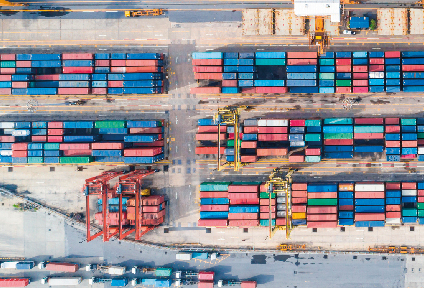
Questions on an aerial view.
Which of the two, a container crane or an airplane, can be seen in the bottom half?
container crane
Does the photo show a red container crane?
Yes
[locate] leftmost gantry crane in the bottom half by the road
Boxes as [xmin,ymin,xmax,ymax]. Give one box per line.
[82,167,130,243]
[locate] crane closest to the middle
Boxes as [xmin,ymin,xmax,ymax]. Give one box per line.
[216,103,254,174]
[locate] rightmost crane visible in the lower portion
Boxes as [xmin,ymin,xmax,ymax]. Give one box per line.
[265,169,300,243]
